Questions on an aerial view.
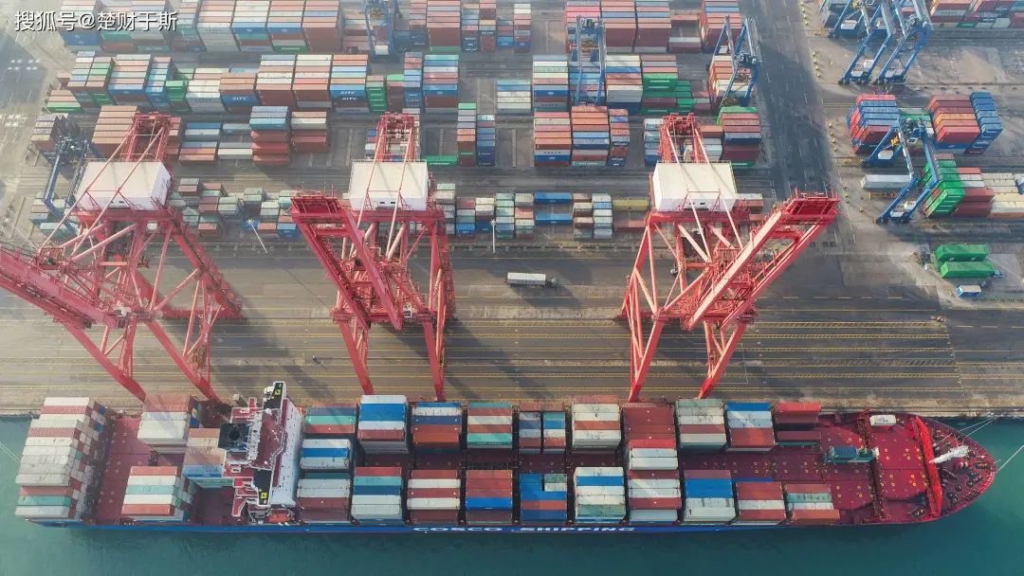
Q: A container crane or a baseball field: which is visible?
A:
container crane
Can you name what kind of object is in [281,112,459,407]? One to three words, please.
container crane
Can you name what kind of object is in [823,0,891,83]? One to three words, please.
crane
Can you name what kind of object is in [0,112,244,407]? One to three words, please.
container crane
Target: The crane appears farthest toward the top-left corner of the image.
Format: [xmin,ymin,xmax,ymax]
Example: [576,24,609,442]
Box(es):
[36,133,110,241]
